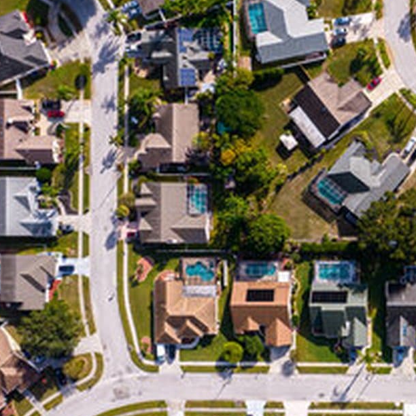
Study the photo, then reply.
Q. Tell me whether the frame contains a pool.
Yes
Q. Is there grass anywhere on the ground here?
Yes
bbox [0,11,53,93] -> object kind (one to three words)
house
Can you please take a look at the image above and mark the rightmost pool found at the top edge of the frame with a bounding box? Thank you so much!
[241,0,268,38]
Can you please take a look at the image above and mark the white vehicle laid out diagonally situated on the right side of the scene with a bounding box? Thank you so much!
[401,137,416,157]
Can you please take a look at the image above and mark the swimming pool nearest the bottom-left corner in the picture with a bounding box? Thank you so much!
[180,258,218,280]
